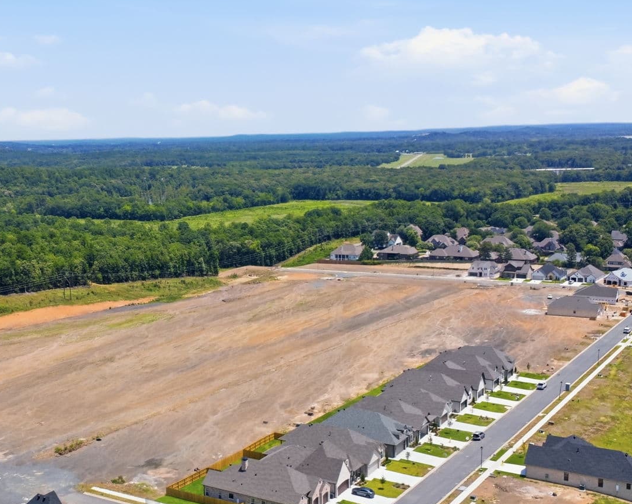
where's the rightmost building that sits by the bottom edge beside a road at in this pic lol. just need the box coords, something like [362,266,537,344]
[523,430,632,504]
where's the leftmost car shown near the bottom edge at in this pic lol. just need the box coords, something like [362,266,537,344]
[353,485,379,498]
